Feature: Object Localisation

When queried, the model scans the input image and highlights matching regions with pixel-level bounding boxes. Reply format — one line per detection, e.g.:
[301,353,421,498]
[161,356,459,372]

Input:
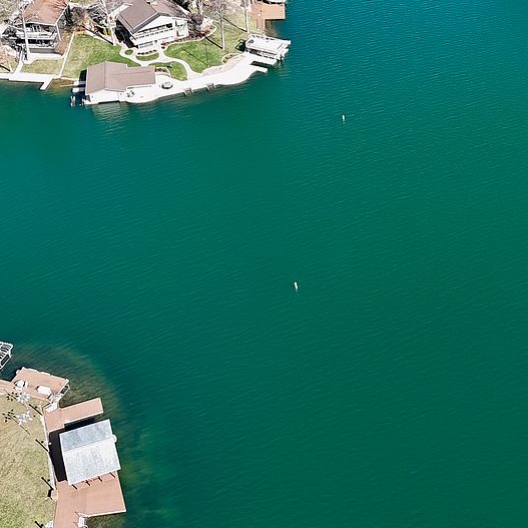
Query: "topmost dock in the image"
[252,3,285,33]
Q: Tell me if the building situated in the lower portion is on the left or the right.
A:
left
